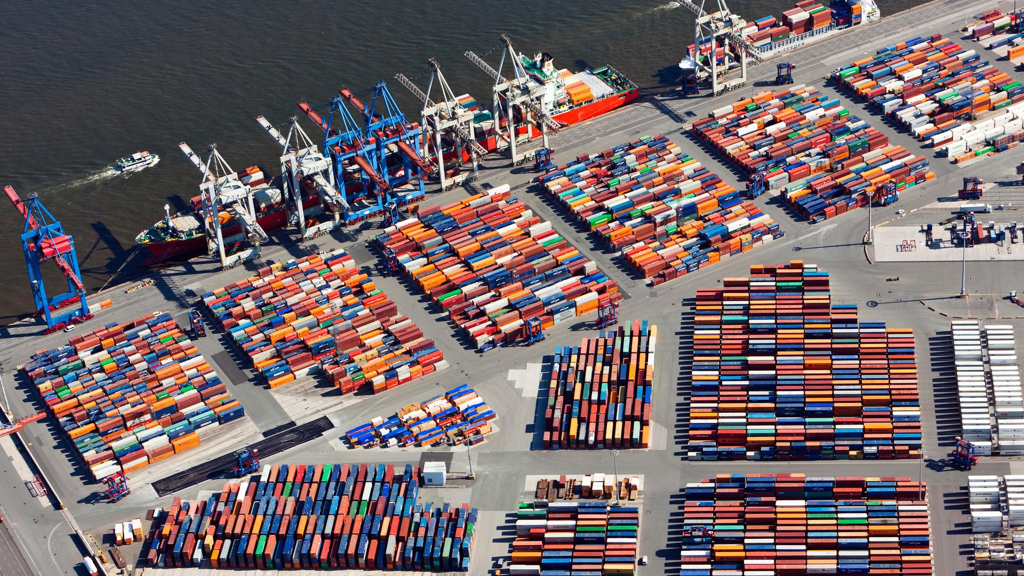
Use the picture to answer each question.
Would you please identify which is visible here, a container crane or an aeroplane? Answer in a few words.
container crane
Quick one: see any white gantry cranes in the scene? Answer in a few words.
Yes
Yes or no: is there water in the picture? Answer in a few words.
Yes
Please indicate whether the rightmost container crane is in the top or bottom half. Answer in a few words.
top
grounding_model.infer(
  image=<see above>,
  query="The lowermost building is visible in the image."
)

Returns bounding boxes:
[422,463,447,484]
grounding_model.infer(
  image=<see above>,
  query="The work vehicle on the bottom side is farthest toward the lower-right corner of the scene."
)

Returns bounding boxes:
[953,429,979,464]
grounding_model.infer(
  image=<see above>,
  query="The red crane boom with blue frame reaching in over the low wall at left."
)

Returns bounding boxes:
[0,397,48,433]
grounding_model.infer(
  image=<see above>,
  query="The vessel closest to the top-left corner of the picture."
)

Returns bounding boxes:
[115,154,157,175]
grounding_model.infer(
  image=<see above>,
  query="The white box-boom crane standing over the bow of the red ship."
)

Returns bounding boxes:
[175,135,272,269]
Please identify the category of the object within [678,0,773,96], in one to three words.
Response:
container crane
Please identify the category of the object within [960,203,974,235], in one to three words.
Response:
work vehicle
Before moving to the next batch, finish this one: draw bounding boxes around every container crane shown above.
[336,80,440,210]
[175,135,272,269]
[463,34,570,167]
[0,397,48,433]
[294,93,397,225]
[678,0,773,96]
[254,109,356,241]
[2,183,92,330]
[392,58,496,192]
